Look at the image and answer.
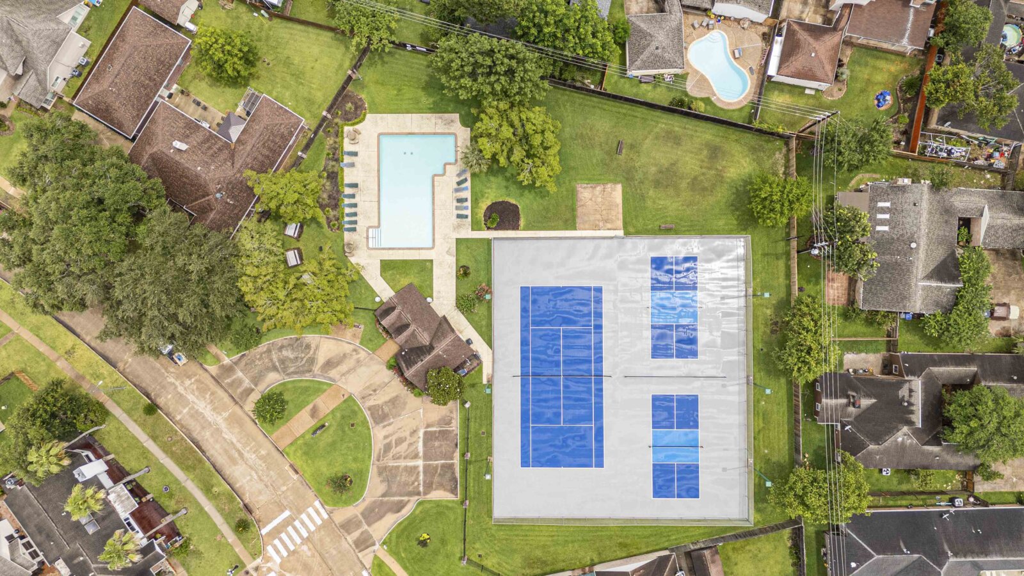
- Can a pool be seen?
Yes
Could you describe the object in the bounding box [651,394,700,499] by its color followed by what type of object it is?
blue sports court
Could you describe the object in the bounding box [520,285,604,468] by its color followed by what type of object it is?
blue tennis court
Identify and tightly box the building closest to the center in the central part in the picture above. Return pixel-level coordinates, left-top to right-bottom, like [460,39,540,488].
[375,284,478,391]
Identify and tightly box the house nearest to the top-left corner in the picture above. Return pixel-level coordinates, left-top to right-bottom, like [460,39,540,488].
[0,0,111,112]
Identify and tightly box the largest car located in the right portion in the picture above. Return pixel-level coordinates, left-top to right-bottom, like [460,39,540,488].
[990,302,1020,321]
